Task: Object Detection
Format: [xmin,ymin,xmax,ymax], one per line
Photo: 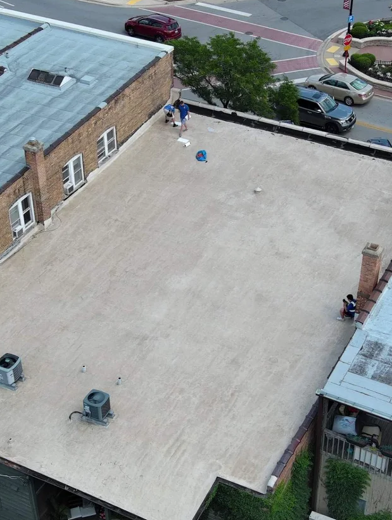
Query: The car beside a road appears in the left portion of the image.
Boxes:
[120,10,181,40]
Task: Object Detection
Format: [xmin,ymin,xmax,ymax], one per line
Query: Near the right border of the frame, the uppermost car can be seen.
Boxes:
[306,69,374,105]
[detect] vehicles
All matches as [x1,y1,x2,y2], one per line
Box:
[354,130,392,145]
[306,69,374,105]
[120,10,181,40]
[277,83,360,133]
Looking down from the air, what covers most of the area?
buildings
